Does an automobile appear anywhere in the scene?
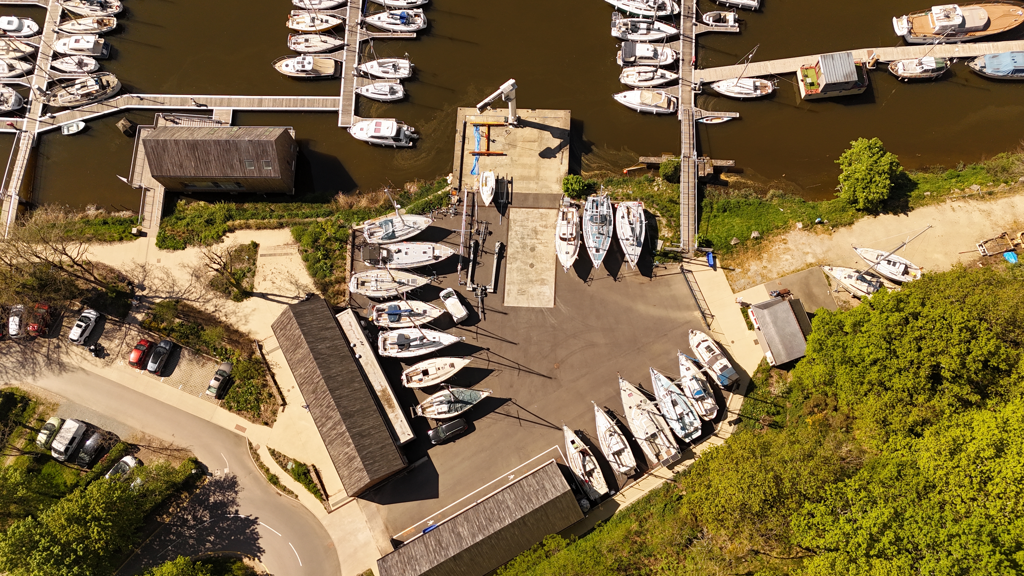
Yes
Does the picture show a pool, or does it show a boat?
boat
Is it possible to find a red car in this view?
Yes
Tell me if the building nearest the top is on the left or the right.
left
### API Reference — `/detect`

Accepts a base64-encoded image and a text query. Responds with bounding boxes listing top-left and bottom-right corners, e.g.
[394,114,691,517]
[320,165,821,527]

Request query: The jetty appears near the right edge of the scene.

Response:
[694,42,1024,84]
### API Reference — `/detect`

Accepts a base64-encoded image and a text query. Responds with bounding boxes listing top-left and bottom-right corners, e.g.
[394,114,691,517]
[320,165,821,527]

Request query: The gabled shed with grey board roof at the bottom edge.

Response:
[376,459,585,576]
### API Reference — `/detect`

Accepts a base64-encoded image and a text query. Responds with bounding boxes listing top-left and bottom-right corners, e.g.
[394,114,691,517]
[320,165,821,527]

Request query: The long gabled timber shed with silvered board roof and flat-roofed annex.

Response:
[271,299,418,497]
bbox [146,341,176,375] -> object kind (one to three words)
car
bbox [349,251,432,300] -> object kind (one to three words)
boat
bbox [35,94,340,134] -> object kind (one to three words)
pier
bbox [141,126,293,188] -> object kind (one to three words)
building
